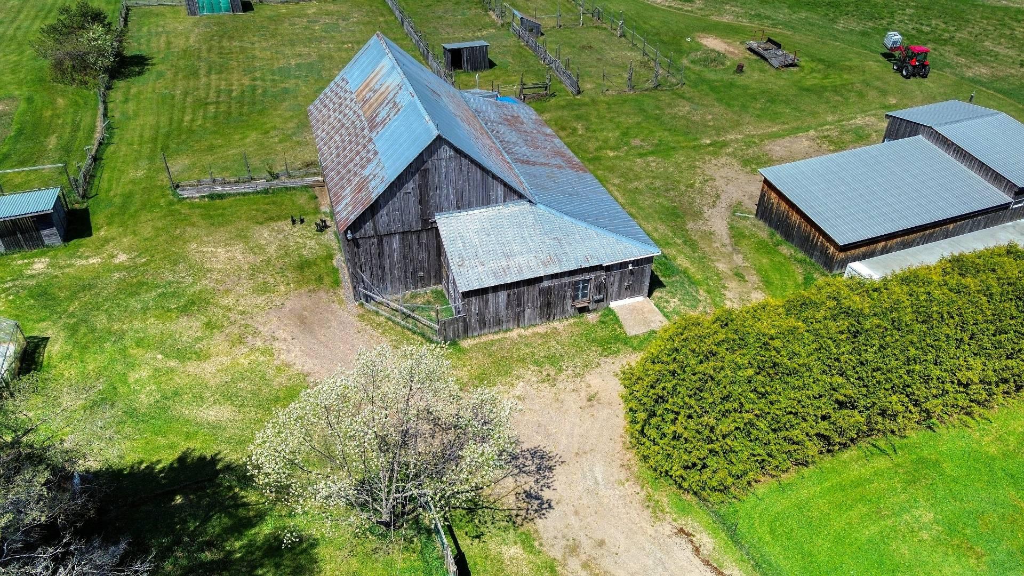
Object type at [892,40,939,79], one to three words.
work vehicle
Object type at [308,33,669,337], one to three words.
barn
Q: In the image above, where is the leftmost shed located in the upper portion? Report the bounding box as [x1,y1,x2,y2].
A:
[0,177,73,254]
